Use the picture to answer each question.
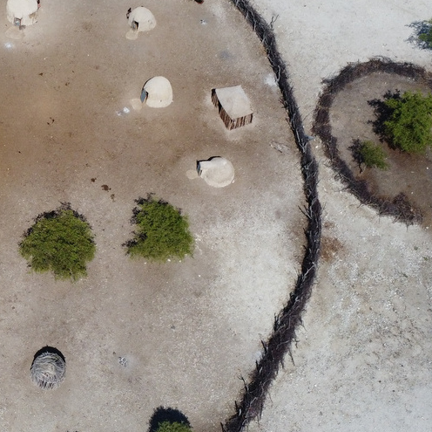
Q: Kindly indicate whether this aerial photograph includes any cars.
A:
No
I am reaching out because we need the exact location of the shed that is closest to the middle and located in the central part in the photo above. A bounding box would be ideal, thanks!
[187,158,236,189]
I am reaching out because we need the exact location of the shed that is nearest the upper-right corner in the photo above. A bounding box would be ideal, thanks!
[209,86,252,130]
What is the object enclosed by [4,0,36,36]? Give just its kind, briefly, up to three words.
shed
